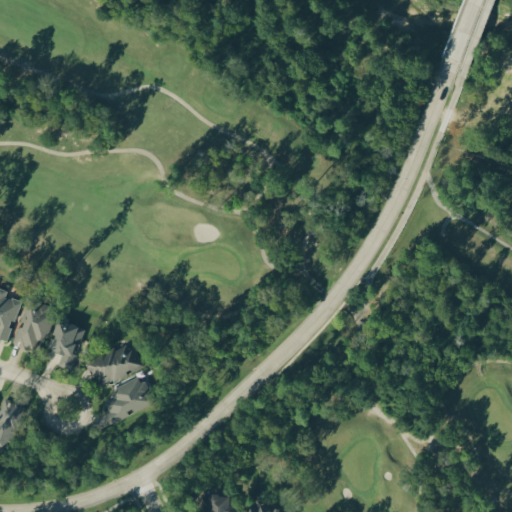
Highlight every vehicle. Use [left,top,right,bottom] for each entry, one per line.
[10,344,20,358]
[440,86,449,100]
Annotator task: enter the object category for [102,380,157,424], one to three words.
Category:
house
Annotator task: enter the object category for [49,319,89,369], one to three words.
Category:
house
